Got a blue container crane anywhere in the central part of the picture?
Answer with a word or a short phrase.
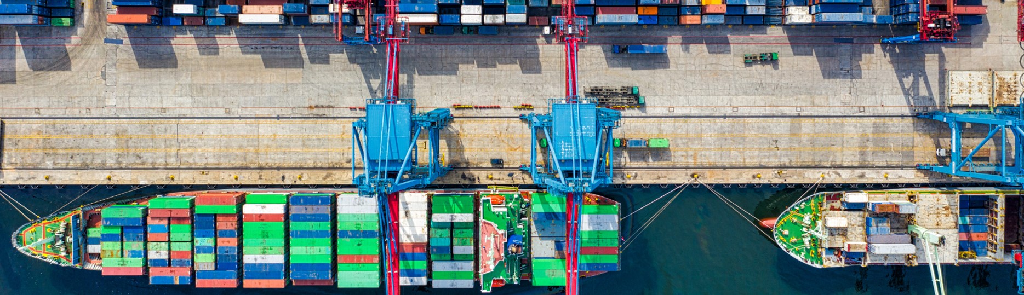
Yes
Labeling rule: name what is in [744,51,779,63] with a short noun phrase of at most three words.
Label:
vehicle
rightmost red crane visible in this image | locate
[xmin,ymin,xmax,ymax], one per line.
[882,0,957,42]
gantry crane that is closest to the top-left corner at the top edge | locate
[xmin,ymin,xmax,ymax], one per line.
[335,0,386,43]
